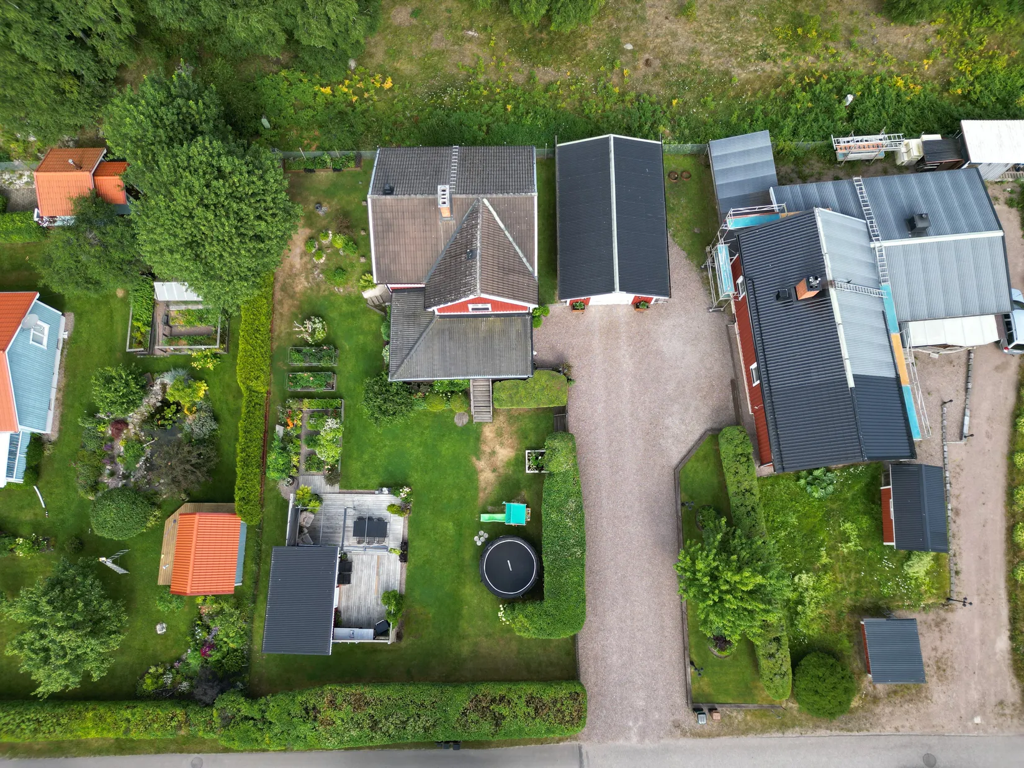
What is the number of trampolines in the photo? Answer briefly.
1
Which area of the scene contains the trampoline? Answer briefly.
bottom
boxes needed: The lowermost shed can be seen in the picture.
[851,618,926,683]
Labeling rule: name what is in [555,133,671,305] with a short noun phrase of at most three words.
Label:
building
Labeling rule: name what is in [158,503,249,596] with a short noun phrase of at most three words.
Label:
building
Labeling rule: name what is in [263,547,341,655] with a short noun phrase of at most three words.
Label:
shed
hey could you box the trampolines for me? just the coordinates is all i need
[477,533,543,603]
